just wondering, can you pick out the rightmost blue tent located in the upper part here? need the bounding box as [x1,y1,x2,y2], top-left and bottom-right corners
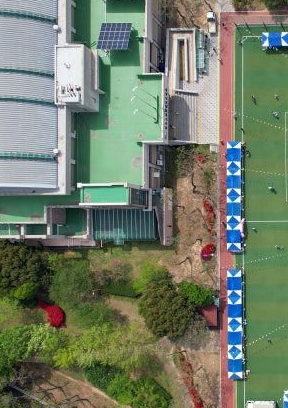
[261,31,288,49]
